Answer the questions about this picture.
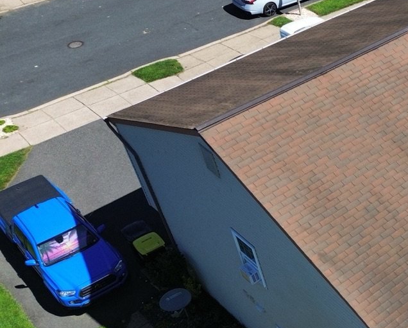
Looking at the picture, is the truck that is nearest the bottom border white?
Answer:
No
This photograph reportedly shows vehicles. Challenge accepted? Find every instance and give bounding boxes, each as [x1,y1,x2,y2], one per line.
[0,173,124,310]
[276,17,317,40]
[231,0,311,20]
